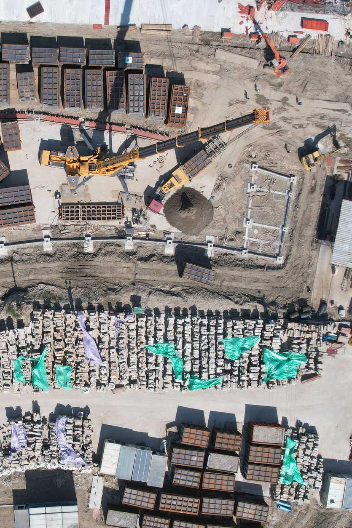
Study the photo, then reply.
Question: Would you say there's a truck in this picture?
Yes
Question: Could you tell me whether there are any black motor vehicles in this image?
No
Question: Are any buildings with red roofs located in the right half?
No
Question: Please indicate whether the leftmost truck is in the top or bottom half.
top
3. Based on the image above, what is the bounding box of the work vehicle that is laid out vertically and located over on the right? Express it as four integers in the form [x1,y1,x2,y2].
[263,30,288,79]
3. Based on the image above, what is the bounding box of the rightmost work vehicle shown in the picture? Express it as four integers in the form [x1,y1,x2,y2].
[297,148,348,173]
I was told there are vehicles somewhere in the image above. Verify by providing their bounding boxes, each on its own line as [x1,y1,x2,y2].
[297,148,348,173]
[146,137,227,215]
[263,30,288,79]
